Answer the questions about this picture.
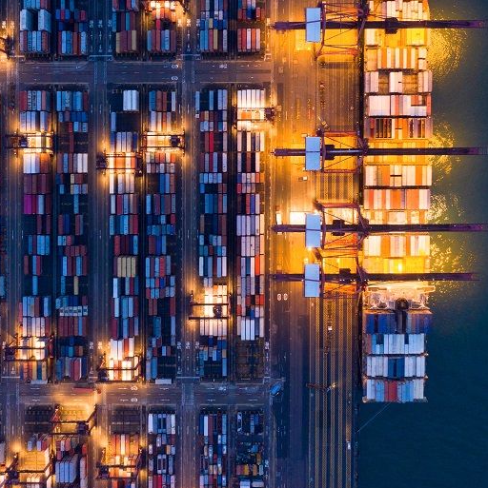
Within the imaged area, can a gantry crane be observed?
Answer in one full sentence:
Yes, I can see a gantry crane in this picture.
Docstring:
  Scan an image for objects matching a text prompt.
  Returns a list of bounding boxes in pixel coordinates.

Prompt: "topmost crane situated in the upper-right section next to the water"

[273,3,488,59]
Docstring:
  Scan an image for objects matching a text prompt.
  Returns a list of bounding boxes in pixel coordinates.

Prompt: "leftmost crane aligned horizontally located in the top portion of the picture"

[2,132,54,151]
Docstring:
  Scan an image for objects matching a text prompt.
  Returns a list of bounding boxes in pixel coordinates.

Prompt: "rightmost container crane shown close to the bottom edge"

[95,449,141,481]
